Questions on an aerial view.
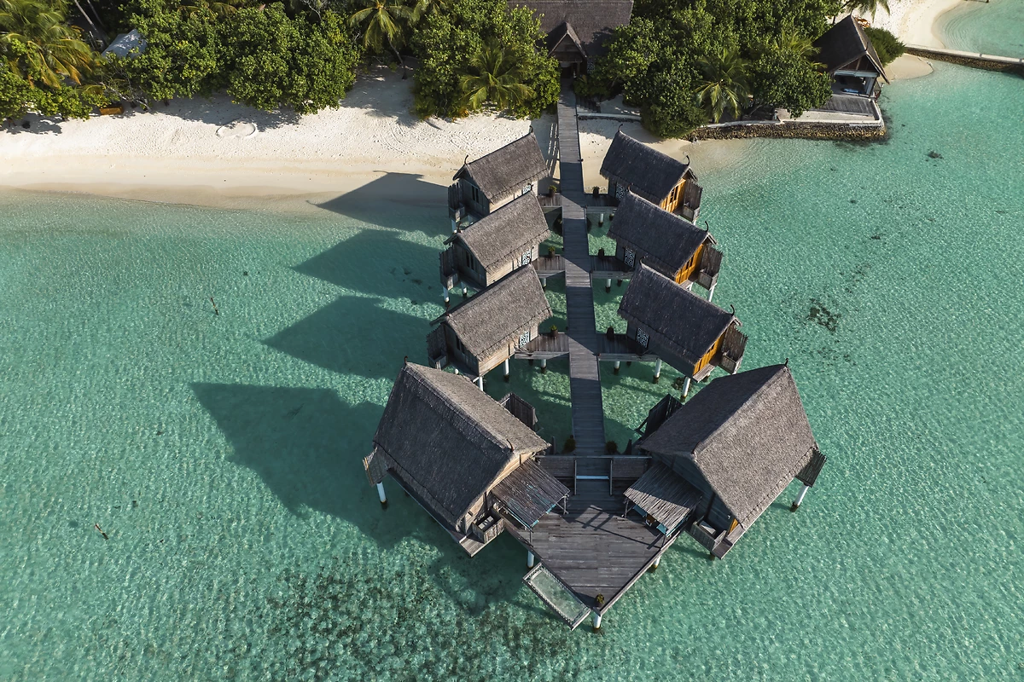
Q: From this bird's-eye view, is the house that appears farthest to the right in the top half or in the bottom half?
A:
top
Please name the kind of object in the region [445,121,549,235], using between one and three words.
shed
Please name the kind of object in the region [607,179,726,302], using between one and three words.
shed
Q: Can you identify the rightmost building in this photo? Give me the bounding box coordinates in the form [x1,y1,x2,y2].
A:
[813,10,887,97]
